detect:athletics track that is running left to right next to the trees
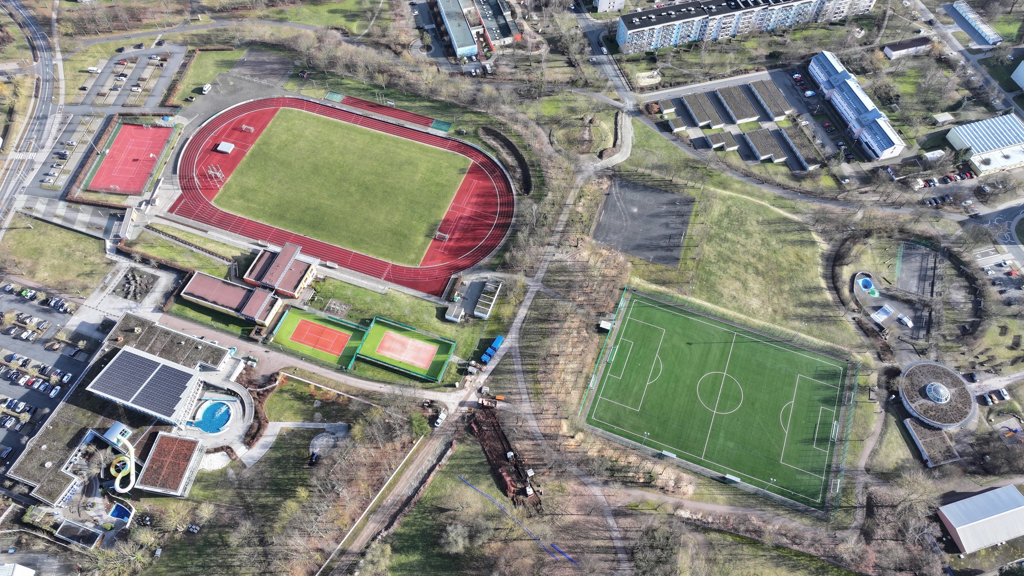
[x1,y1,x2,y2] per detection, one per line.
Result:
[167,97,514,298]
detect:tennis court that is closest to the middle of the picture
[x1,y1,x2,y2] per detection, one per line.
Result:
[358,320,455,380]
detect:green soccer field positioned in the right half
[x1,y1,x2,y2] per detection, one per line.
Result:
[577,286,860,521]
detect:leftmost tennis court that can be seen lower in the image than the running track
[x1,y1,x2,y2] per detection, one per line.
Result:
[272,308,367,369]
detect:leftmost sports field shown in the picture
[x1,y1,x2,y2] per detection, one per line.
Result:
[212,109,471,265]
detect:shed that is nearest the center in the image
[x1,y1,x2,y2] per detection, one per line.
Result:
[474,278,502,320]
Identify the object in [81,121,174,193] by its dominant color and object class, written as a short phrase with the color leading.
red sports court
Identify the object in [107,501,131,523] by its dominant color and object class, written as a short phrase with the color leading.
blue swimming pool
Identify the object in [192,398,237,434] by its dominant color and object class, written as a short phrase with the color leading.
blue swimming pool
